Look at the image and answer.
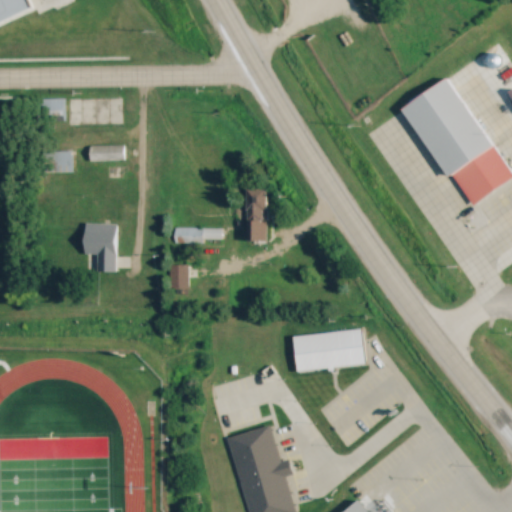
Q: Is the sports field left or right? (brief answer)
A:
left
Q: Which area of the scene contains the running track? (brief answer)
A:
bottom left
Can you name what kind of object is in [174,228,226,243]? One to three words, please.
house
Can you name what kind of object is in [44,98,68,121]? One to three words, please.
shed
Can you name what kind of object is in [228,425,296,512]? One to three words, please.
building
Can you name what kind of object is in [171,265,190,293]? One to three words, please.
house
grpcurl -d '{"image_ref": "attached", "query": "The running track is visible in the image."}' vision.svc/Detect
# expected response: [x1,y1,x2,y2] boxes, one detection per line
[0,358,146,512]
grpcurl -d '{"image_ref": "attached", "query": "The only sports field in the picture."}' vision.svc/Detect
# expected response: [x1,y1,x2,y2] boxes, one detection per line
[0,380,124,512]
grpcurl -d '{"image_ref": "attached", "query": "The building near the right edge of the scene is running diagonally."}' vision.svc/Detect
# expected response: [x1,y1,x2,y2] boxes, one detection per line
[402,78,512,206]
